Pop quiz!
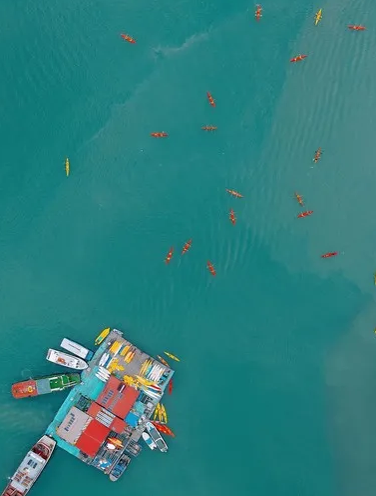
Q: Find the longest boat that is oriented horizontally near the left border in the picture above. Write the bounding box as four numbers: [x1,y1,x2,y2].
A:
[11,373,81,400]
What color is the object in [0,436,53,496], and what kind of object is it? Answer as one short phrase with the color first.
white boat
